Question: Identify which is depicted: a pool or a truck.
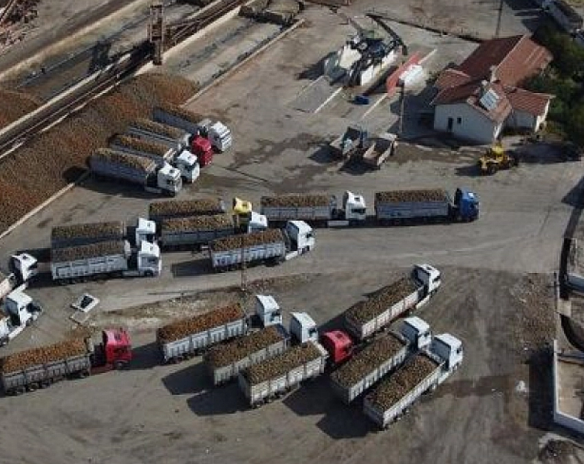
truck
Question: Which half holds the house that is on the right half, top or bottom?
top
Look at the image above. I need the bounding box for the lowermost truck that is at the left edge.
[1,326,131,393]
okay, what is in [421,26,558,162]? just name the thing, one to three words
house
